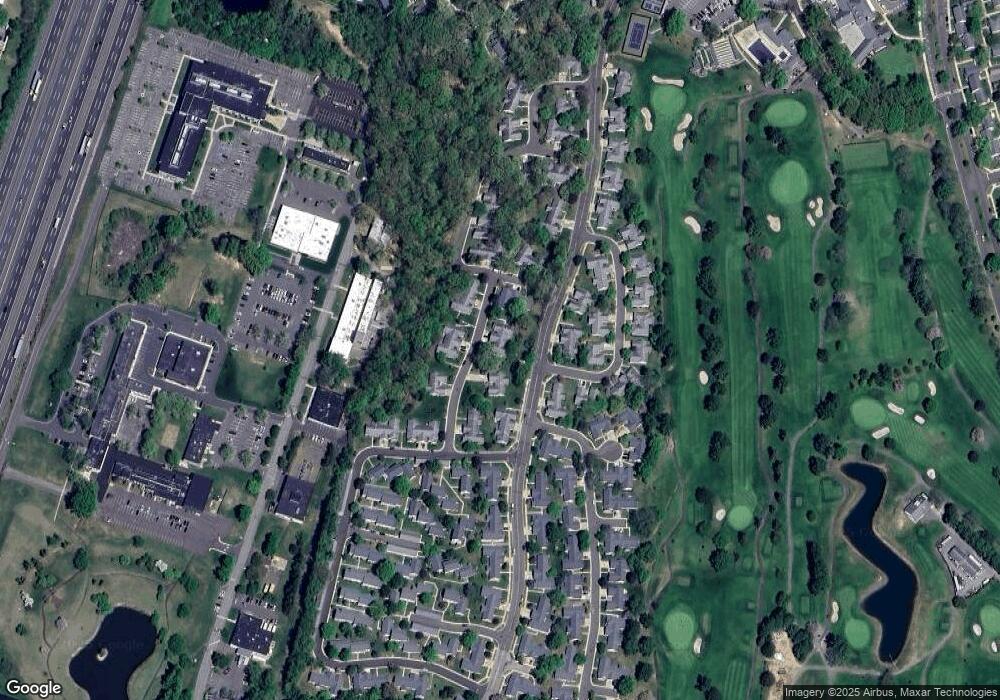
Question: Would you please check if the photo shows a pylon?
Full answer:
No, the photo shows no pylon.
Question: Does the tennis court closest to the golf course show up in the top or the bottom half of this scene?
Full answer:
The tennis court closest to the golf course is in the top half of the image.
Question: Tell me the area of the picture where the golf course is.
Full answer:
The golf course is located in the right region of the scene.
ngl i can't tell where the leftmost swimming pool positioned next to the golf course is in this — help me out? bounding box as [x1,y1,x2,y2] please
[731,23,790,74]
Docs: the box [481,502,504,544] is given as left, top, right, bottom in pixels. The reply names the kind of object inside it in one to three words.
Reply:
house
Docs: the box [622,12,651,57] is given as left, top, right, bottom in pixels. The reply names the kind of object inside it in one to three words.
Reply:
tennis court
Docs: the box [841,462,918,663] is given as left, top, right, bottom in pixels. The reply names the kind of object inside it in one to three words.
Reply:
pond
